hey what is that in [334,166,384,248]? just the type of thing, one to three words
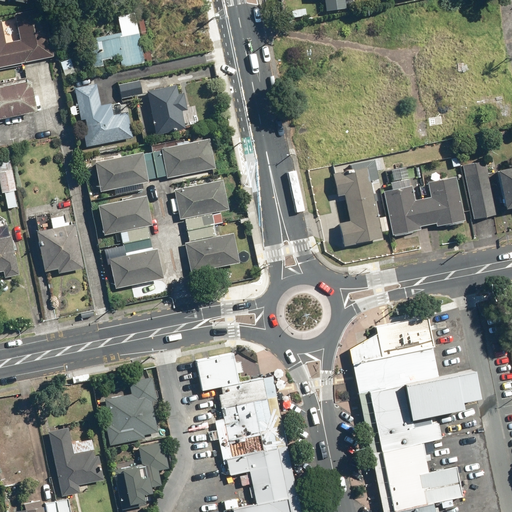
house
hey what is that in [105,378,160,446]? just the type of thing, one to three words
house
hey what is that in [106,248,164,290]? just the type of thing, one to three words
building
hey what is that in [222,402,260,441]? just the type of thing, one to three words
building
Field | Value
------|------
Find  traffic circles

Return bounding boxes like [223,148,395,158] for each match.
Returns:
[276,284,331,340]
